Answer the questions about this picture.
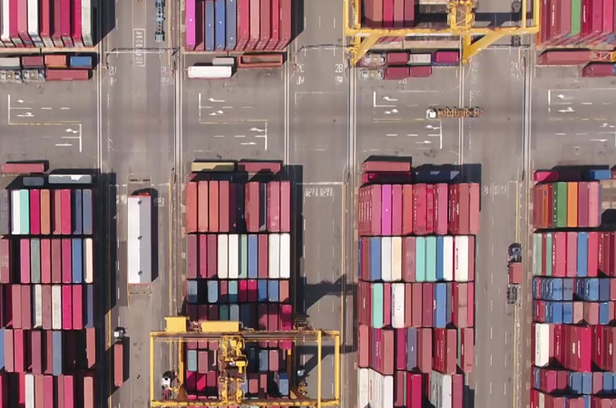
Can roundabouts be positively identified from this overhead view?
No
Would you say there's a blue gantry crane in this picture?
No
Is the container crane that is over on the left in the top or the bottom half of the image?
bottom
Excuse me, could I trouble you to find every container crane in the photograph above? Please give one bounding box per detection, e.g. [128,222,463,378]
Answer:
[346,0,539,67]
[150,311,341,407]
